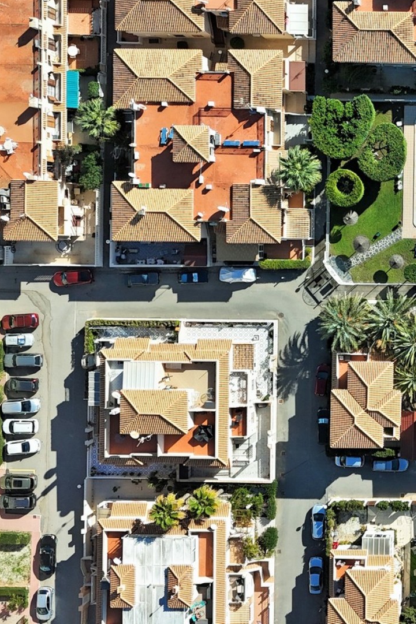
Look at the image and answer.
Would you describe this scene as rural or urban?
urban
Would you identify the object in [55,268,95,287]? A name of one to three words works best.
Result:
car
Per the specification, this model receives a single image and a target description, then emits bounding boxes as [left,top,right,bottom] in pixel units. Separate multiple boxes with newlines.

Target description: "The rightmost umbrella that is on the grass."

[389,254,404,269]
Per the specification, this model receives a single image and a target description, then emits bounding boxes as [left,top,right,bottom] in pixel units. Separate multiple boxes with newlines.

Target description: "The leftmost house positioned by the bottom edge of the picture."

[96,501,269,624]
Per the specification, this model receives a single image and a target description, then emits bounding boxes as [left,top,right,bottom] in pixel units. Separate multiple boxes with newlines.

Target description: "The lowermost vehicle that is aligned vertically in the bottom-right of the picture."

[307,555,324,593]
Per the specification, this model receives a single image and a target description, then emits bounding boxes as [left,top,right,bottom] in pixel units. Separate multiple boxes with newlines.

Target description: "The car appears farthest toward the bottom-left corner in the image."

[36,585,58,620]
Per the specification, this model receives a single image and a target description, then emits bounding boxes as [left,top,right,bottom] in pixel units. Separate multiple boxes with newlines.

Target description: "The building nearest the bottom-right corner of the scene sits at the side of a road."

[324,519,403,624]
